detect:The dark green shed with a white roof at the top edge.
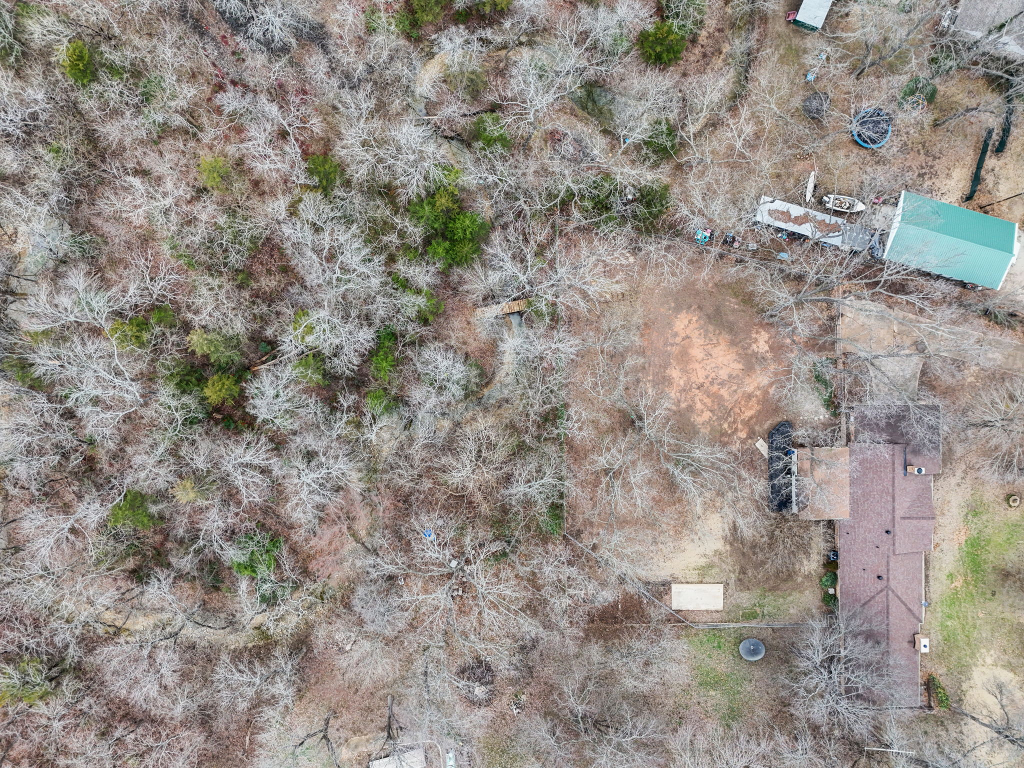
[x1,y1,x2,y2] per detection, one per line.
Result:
[791,0,832,35]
